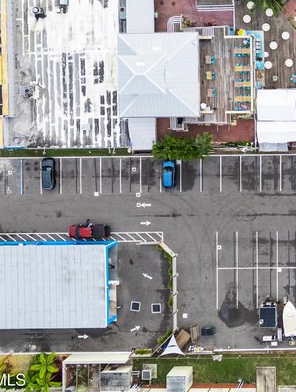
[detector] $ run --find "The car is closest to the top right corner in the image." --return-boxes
[161,160,177,189]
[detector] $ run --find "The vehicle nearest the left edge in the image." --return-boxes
[39,158,57,190]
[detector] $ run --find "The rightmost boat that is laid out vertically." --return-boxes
[282,293,296,344]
